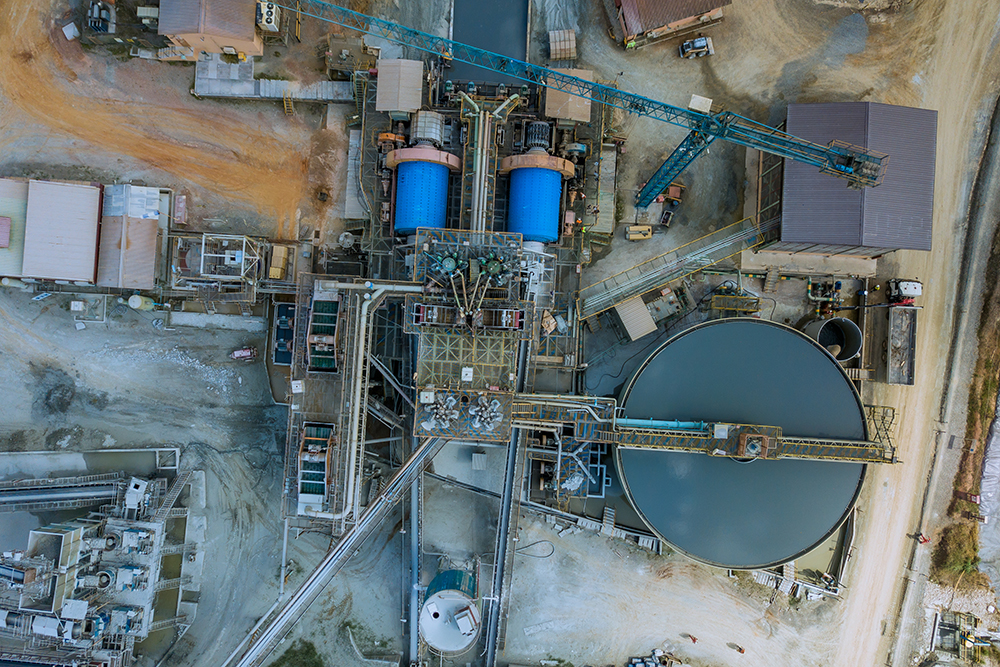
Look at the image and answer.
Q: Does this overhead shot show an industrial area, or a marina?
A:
industrial area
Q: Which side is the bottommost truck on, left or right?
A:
right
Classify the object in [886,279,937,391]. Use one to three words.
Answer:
truck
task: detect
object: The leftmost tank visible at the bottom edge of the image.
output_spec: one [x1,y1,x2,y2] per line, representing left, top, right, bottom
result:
[417,560,495,667]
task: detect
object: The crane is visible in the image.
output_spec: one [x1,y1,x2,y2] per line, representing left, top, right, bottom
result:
[249,0,898,204]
